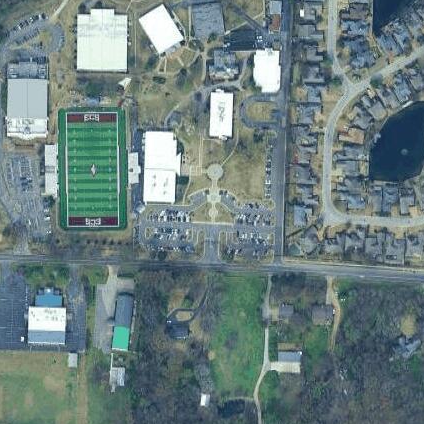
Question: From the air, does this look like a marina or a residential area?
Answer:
residential area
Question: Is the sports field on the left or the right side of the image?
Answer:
left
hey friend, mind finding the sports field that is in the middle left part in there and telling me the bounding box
[59,107,126,231]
